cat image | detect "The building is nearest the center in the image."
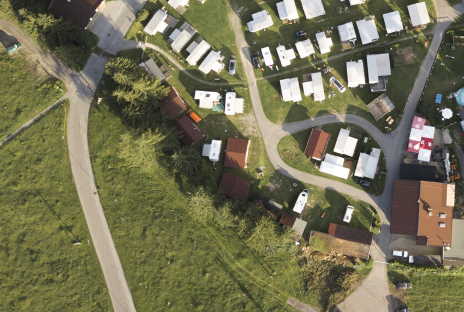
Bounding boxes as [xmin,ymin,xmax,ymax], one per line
[224,137,251,169]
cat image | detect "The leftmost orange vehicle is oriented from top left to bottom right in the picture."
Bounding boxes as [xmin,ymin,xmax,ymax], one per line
[186,108,202,124]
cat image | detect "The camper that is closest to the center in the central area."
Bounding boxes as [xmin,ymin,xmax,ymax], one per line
[202,139,222,162]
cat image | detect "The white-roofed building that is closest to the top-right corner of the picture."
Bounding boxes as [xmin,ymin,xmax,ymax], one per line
[408,2,430,30]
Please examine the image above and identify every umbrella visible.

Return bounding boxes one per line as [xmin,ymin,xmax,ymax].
[412,116,425,130]
[418,148,431,162]
[420,137,433,150]
[422,125,435,139]
[442,108,453,119]
[410,128,422,141]
[408,139,421,153]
